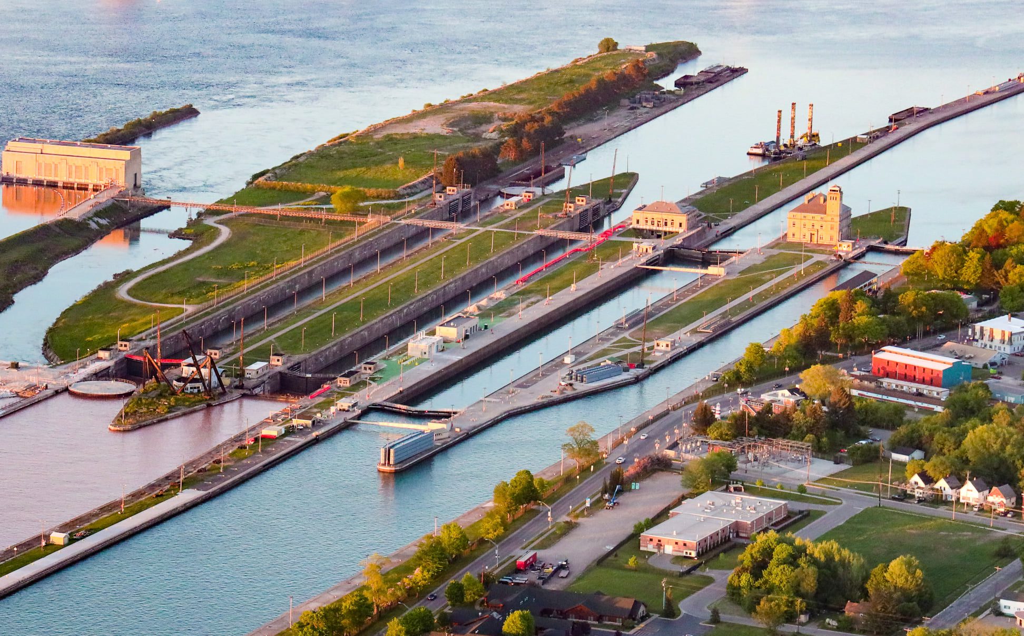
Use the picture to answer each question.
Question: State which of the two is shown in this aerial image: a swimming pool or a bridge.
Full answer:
The one in the frame is a bridge.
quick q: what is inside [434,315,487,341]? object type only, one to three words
building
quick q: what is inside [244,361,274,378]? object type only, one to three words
shed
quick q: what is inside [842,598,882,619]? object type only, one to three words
house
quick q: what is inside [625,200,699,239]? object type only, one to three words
building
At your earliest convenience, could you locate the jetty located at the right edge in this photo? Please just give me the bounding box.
[661,76,1024,258]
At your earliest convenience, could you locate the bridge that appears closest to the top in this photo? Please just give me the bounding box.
[115,186,390,222]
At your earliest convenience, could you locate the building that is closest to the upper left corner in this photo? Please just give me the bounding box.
[0,138,141,191]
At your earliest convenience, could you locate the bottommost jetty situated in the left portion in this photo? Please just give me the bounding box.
[0,223,702,598]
